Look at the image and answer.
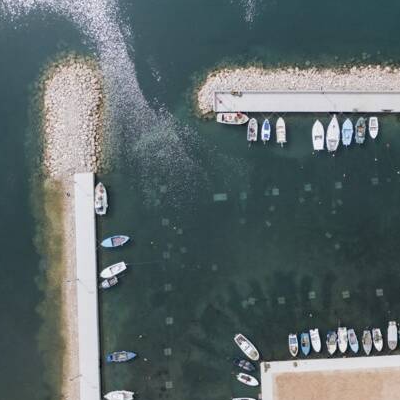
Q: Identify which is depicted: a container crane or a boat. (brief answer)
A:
boat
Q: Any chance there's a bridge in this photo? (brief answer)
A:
No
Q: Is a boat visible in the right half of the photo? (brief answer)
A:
Yes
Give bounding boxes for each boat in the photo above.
[347,328,358,355]
[288,332,299,361]
[324,331,337,359]
[103,388,136,400]
[232,359,255,369]
[341,114,353,146]
[97,234,130,247]
[387,319,398,349]
[324,112,343,153]
[100,261,127,276]
[272,112,286,144]
[260,112,274,142]
[233,333,259,360]
[311,119,324,151]
[104,351,137,363]
[368,115,378,139]
[310,326,321,352]
[94,179,106,213]
[300,333,310,359]
[362,330,372,356]
[355,112,367,145]
[371,328,382,356]
[337,319,348,353]
[246,114,258,142]
[217,112,253,124]
[102,276,120,285]
[235,371,259,385]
